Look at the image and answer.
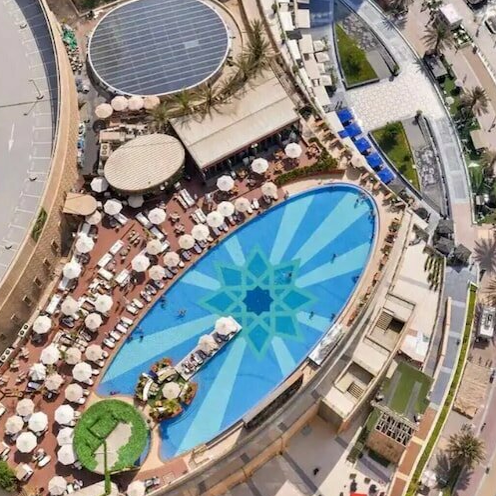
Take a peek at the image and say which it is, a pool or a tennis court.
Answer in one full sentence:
The one in the frame is a pool.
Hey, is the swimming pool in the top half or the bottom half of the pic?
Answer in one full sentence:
The bottom half of the photo is where the swimming pool is.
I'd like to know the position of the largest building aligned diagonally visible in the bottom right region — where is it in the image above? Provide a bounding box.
[317,296,415,434]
